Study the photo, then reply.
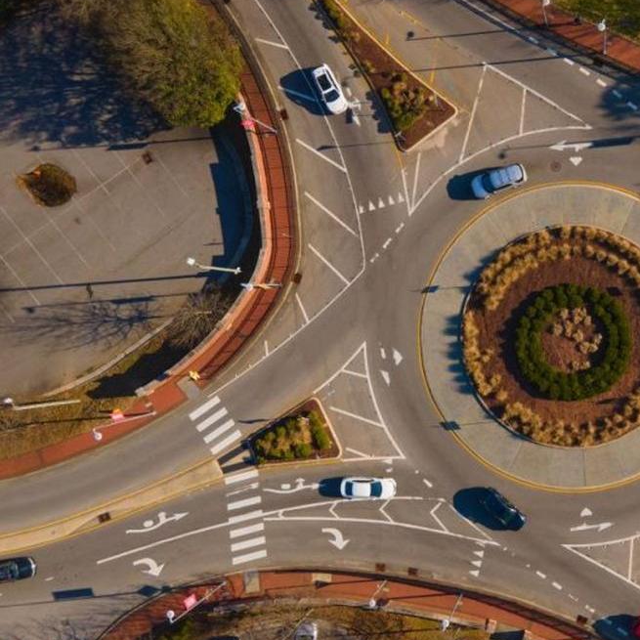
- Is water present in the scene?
No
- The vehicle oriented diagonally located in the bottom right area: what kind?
automobile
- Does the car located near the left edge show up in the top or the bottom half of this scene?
bottom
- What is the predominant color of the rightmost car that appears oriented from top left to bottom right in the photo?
black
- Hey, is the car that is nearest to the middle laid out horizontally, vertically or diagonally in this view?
horizontally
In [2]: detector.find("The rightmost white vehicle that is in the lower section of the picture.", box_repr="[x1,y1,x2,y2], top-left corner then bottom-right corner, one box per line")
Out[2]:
[340,475,397,500]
